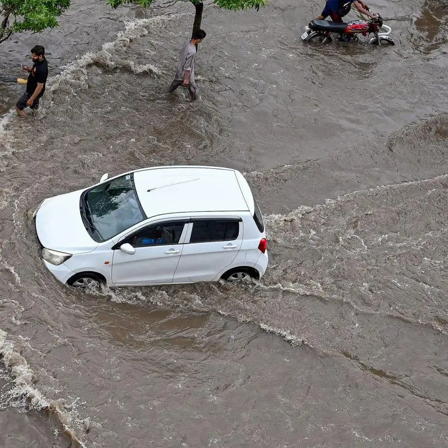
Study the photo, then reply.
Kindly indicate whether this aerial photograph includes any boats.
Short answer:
No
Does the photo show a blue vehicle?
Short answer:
No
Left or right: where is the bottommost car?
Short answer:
left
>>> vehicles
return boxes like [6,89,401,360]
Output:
[301,0,401,48]
[35,163,269,283]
